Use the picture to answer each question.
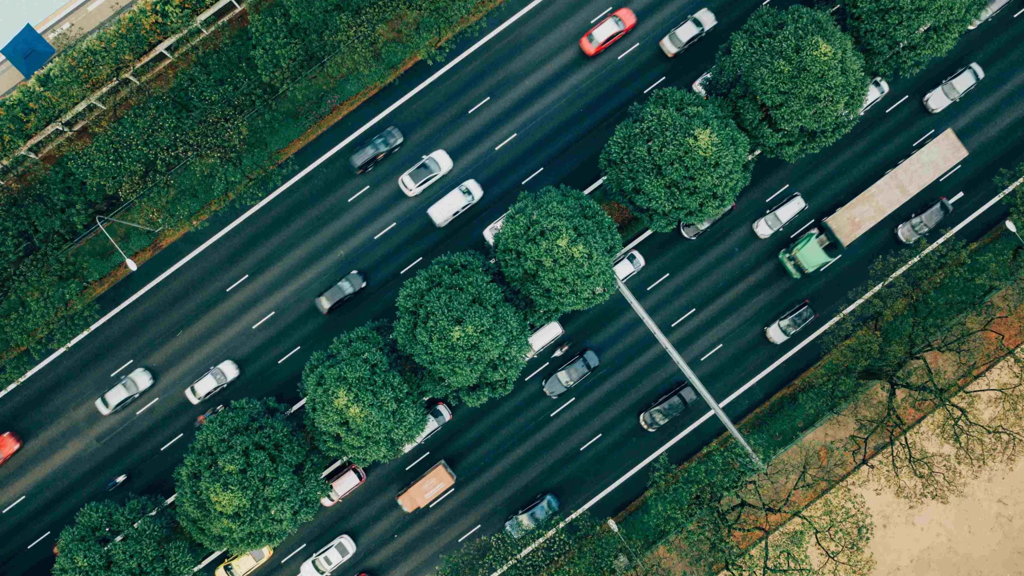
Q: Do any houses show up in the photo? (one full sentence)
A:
No, there isn't any house down there.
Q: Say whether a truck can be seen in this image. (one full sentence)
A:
Yes, there's a truck down there.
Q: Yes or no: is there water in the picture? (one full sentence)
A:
No, the picture contains no water.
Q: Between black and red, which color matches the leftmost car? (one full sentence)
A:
The color of the leftmost car is red.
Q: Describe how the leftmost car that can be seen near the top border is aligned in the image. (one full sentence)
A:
The leftmost car that can be seen near the top border is laid out diagonally.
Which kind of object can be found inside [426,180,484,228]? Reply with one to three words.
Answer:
van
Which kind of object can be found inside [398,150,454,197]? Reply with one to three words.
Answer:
car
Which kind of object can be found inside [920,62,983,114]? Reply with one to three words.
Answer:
car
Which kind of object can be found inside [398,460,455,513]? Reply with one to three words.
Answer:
truck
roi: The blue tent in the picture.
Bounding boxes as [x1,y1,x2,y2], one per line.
[0,23,67,80]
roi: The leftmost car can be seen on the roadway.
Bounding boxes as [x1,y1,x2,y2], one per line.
[0,435,23,468]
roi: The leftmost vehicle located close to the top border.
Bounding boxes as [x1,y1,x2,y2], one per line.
[579,9,637,59]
